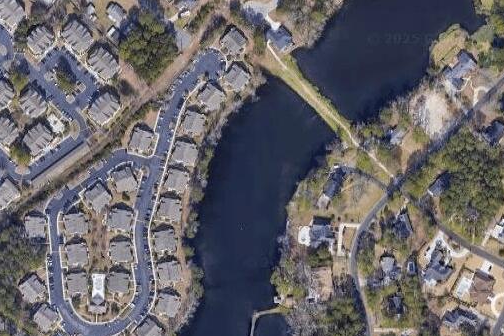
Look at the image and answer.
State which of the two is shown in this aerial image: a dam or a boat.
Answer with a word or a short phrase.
dam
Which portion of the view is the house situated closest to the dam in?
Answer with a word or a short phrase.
top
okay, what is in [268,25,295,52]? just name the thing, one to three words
house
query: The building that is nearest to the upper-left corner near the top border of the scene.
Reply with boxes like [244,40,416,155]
[0,0,26,27]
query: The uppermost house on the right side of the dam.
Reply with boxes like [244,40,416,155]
[443,54,478,85]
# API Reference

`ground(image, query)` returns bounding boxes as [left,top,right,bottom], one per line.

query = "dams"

[266,51,358,143]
